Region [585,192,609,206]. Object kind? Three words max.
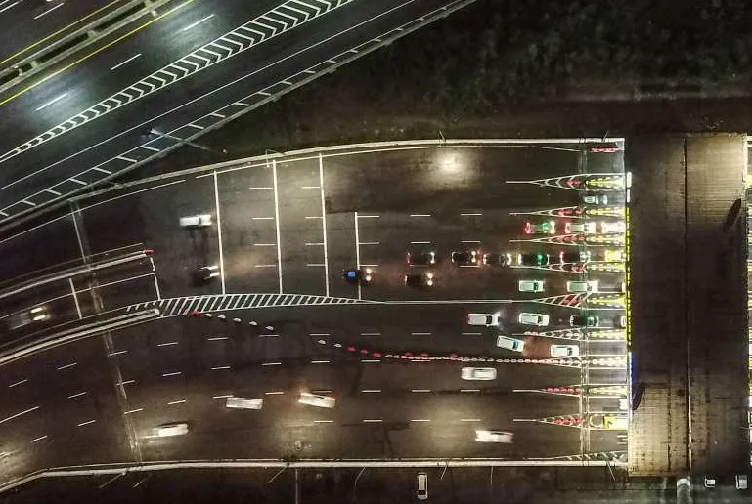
vehicle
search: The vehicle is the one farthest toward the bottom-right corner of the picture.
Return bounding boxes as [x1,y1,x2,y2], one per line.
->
[735,475,750,489]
